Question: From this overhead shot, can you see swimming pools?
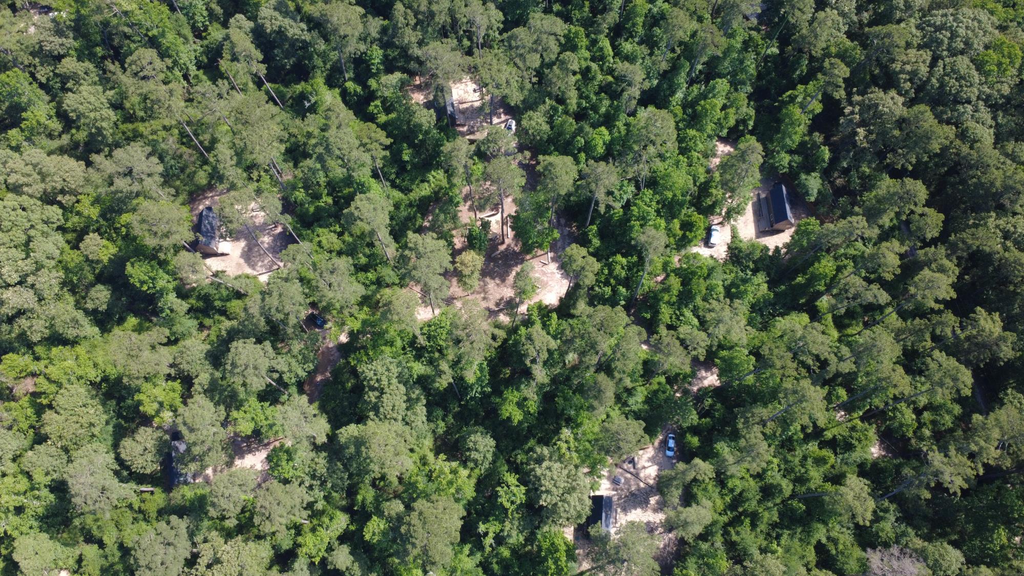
No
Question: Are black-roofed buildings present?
Yes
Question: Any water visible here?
No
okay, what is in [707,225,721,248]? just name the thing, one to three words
car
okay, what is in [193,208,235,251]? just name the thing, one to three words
building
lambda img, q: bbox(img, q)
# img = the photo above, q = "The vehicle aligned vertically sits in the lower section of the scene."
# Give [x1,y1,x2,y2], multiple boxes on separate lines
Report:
[664,431,677,459]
